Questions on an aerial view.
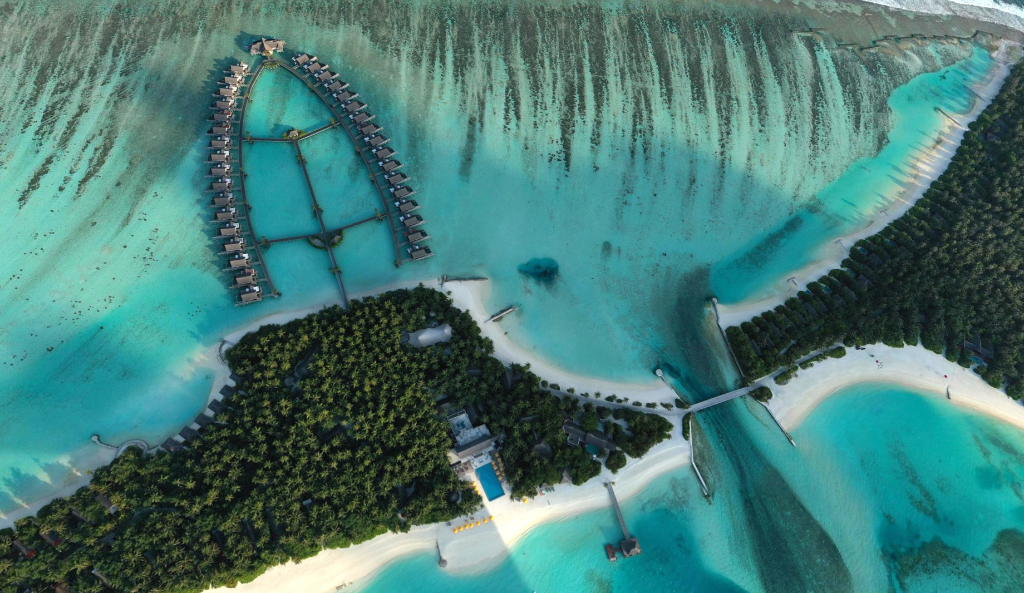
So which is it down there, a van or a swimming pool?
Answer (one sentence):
The image shows a swimming pool.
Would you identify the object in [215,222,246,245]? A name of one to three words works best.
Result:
house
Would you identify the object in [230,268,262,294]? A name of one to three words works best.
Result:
house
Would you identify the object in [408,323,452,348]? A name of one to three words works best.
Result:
tent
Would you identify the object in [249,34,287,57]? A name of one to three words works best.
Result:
building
